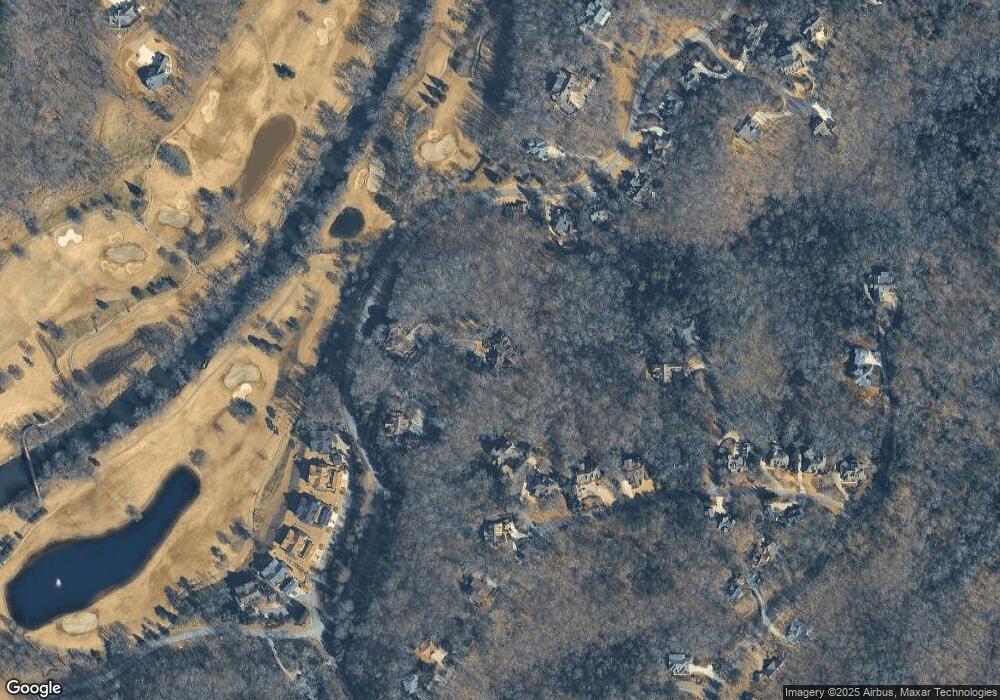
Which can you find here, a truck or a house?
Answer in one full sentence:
This aerial view contains a house.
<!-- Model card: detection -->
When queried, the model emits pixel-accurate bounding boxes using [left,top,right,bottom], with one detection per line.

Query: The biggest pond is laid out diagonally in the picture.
[6,466,199,629]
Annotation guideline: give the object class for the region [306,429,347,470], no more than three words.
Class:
house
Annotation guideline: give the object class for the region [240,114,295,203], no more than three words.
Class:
pond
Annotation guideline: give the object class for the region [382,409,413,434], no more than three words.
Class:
house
